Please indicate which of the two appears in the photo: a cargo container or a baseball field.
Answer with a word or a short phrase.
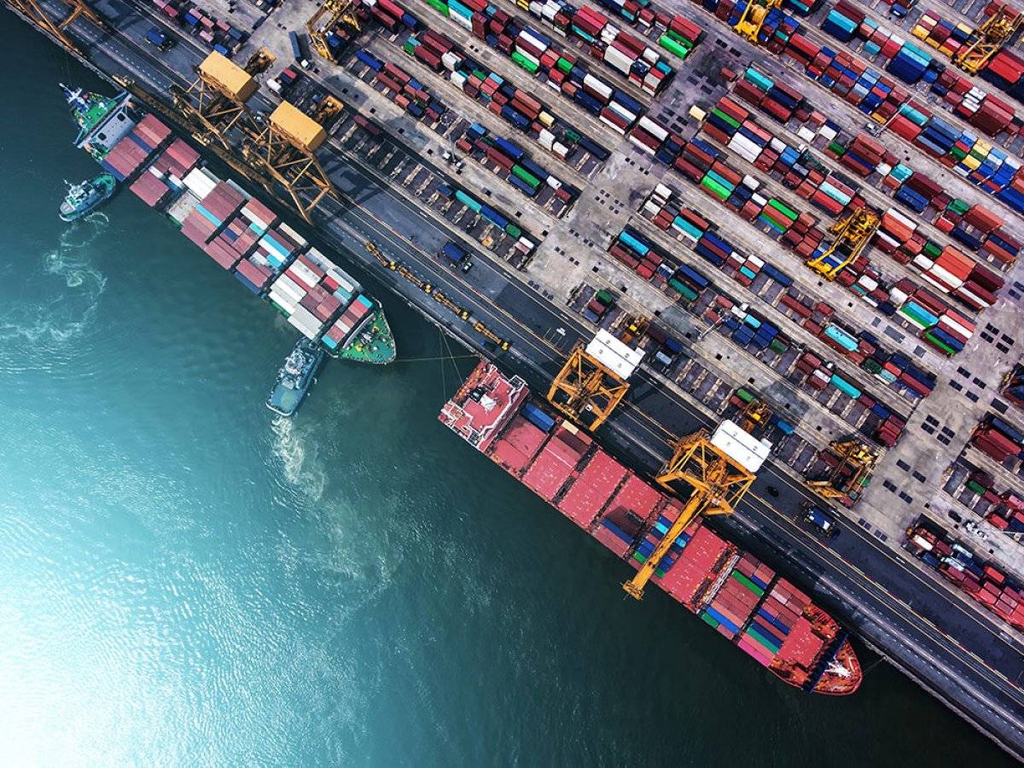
cargo container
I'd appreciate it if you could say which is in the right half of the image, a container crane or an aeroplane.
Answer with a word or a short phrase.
container crane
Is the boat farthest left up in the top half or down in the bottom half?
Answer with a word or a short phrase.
top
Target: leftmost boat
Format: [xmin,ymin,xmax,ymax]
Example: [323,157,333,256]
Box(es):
[55,175,118,229]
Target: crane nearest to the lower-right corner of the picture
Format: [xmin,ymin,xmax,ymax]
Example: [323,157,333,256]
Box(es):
[805,439,881,502]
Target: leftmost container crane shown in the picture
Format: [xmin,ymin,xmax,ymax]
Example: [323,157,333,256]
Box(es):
[16,0,106,53]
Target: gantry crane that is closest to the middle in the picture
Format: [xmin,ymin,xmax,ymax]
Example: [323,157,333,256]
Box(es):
[540,314,650,435]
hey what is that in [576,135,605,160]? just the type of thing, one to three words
shipping container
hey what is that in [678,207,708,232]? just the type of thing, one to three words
shipping container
